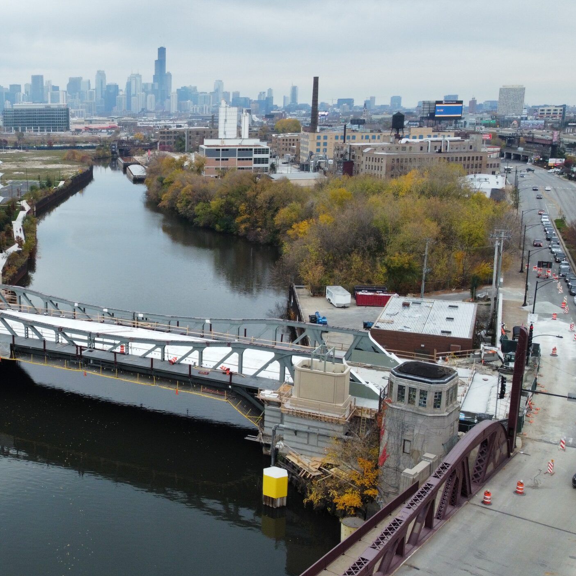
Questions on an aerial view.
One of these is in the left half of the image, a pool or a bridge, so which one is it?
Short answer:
bridge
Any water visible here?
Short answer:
Yes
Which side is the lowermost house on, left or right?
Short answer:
right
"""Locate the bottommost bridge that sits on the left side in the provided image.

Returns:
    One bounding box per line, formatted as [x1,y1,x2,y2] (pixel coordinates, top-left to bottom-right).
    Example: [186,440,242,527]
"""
[0,284,395,401]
